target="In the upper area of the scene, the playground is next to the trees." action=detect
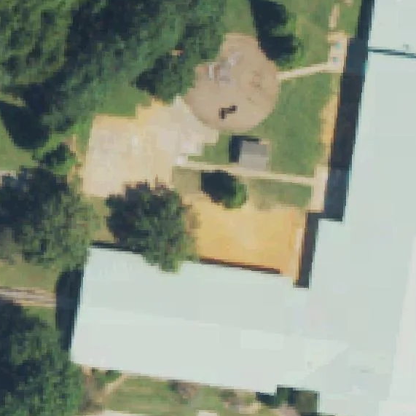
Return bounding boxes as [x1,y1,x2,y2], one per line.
[188,34,278,131]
